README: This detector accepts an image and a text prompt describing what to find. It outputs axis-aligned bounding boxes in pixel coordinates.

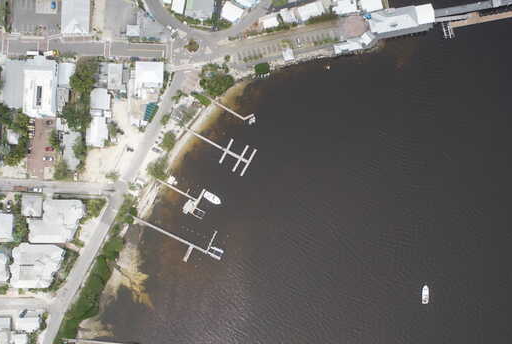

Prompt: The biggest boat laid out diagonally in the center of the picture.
[204,190,220,203]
